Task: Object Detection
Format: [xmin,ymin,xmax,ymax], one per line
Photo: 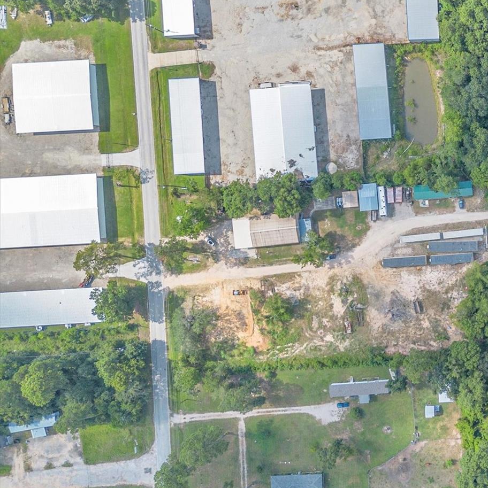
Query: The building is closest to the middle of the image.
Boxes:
[232,217,254,249]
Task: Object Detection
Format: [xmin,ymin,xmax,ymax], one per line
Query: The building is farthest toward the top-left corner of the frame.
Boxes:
[12,59,100,134]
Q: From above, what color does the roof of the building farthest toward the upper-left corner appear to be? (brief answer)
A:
white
